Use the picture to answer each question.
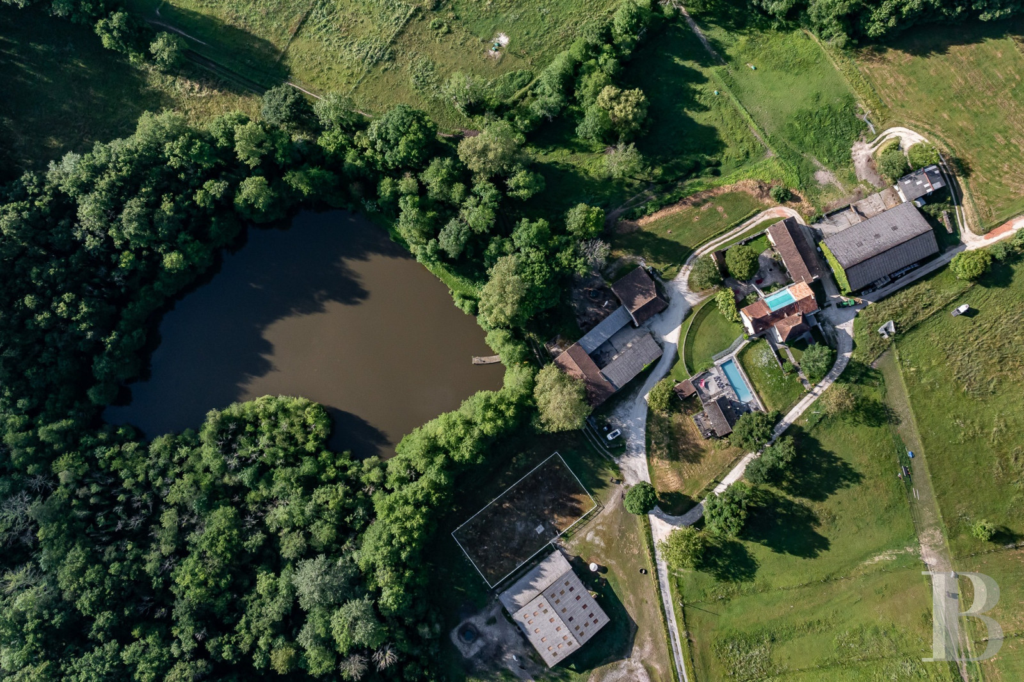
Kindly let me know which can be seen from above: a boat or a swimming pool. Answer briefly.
swimming pool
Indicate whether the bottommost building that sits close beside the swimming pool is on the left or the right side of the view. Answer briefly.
right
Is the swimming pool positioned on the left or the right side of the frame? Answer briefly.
right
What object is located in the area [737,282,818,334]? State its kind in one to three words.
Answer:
house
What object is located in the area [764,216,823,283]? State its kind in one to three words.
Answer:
house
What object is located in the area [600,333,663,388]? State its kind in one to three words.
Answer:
barn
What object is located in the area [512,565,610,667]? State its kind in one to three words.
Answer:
barn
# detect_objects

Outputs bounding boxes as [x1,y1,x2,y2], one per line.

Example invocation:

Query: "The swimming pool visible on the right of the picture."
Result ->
[717,355,758,409]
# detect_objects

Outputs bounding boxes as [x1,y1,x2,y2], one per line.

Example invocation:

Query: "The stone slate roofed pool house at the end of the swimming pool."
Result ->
[703,397,739,437]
